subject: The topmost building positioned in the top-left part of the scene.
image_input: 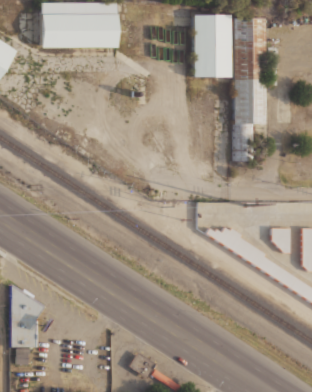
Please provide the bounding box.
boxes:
[40,2,122,48]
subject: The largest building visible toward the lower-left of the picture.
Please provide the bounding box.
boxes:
[9,285,46,348]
